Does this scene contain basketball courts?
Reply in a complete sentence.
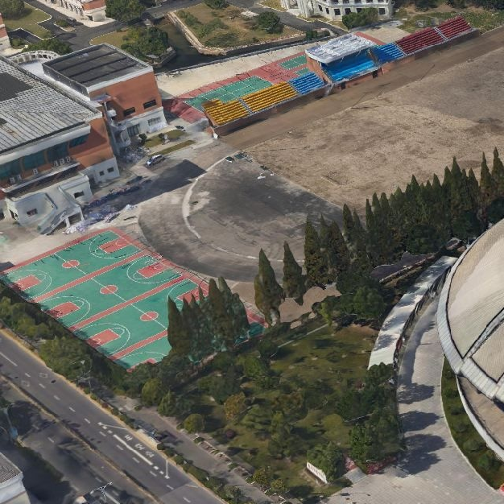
Yes, looking at the shot, I can spot a basketball court.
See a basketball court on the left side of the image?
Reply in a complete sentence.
Yes, there is a basketball court on the left side of the image.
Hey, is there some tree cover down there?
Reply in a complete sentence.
Yes, tree cover shows up in the scene.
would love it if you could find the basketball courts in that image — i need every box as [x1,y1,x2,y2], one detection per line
[78,278,207,358]
[1,231,139,297]
[0,223,284,403]
[43,254,177,324]
[119,339,174,370]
